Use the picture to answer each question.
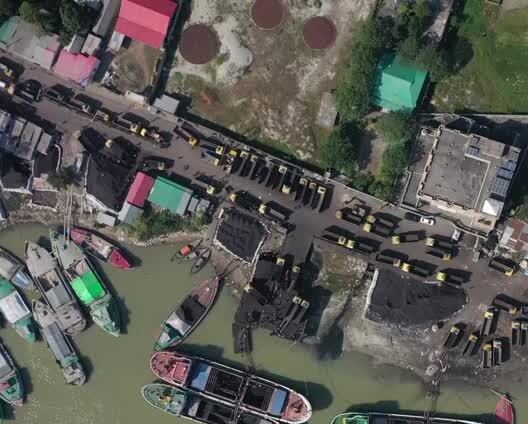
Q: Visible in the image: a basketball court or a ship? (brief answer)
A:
ship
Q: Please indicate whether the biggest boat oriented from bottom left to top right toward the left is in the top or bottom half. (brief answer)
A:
bottom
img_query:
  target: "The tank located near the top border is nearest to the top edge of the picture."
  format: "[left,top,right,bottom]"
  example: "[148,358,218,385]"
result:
[251,0,286,29]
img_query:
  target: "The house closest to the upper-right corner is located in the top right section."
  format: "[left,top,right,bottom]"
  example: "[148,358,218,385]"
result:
[372,56,429,114]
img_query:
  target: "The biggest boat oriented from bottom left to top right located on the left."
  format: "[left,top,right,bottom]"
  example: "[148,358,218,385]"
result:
[154,277,219,353]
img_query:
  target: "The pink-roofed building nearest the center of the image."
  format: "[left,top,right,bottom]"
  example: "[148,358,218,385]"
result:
[125,171,156,206]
